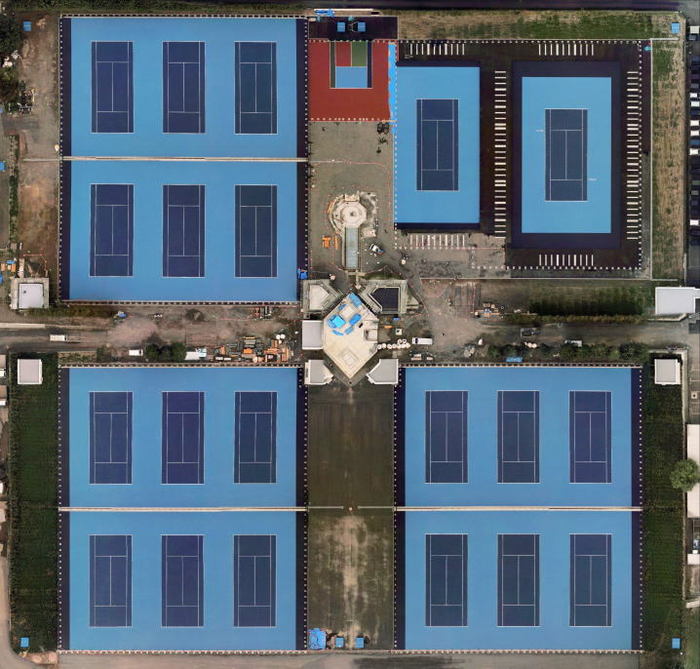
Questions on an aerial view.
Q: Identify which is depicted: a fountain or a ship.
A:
fountain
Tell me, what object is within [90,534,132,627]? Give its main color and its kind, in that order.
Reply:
blue tennis court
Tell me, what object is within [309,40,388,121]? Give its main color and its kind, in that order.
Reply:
red sports court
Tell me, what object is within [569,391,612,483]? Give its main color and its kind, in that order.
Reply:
blue tennis court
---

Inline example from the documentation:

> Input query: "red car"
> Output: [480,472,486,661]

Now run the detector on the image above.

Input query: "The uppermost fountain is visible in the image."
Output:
[325,191,379,236]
